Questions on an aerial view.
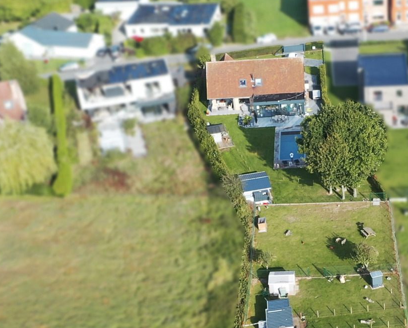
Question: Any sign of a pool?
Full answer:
Yes, the frame does contain a pool.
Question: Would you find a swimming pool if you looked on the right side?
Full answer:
Yes, a swimming pool appears on the right side.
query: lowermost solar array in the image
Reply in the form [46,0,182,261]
[107,51,170,84]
